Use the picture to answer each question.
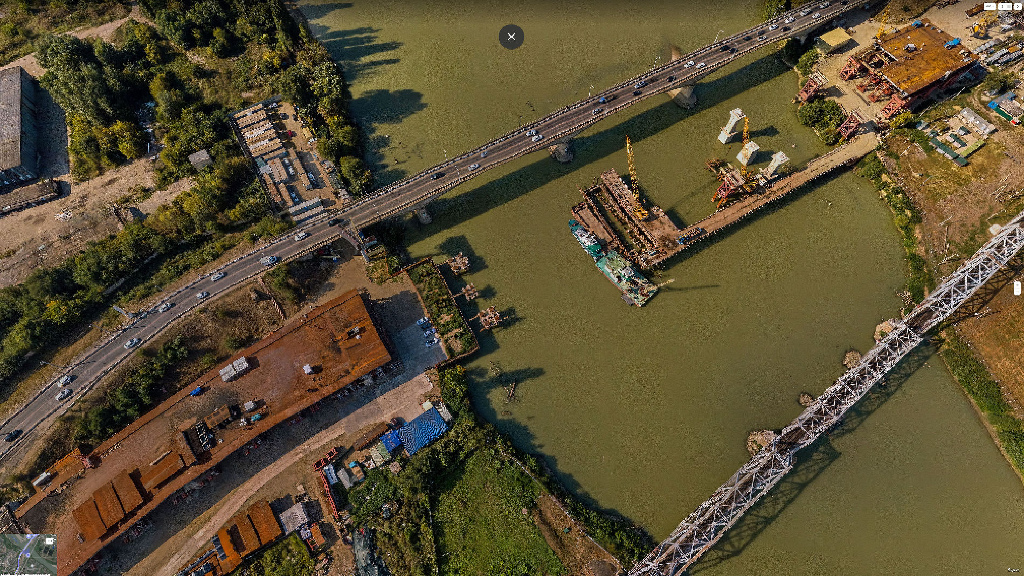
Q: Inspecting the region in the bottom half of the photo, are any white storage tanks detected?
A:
No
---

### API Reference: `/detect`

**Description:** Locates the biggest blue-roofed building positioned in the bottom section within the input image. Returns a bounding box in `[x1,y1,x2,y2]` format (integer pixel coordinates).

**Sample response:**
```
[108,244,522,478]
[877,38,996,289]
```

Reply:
[396,405,451,457]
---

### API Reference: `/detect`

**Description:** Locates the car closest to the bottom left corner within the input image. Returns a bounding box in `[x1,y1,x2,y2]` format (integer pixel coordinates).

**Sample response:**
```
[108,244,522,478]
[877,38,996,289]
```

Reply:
[2,429,19,443]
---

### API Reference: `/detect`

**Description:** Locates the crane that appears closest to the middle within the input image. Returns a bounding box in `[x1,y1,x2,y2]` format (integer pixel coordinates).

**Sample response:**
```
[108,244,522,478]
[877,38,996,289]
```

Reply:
[621,135,655,225]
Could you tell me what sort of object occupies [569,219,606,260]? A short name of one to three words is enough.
boat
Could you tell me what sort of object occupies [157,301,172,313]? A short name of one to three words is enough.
vehicle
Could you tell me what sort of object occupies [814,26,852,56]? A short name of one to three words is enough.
hangar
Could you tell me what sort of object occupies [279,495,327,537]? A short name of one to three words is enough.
building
